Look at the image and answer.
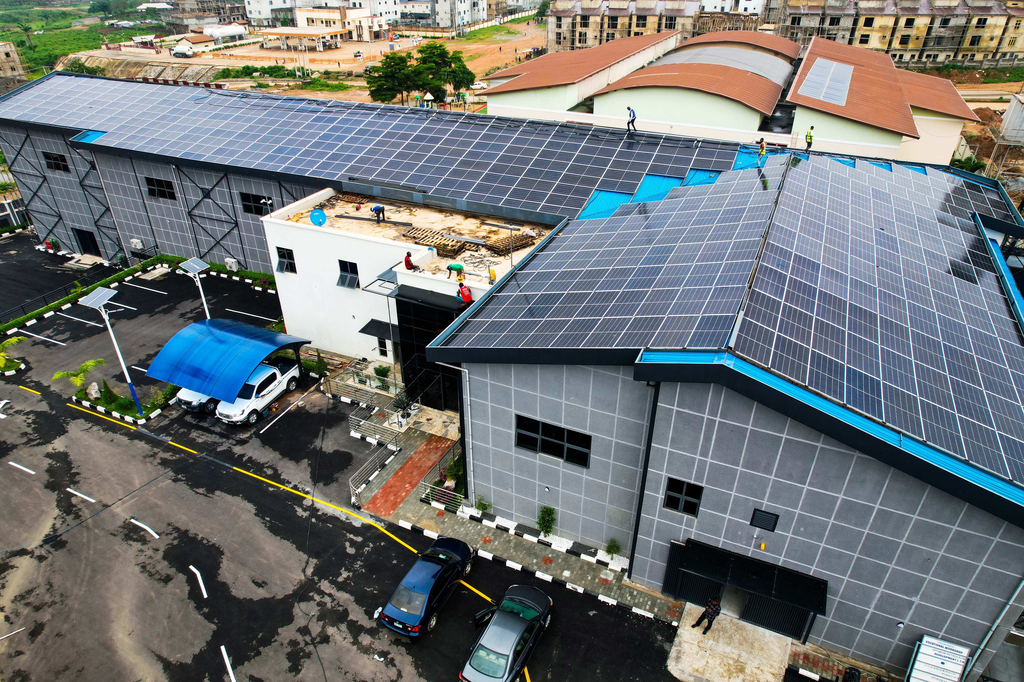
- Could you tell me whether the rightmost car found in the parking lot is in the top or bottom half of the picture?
bottom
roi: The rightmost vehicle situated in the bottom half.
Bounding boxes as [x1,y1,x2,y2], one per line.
[456,584,554,682]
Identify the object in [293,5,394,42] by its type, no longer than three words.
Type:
building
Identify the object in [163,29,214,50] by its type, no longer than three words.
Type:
house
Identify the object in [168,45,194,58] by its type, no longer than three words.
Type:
vehicle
